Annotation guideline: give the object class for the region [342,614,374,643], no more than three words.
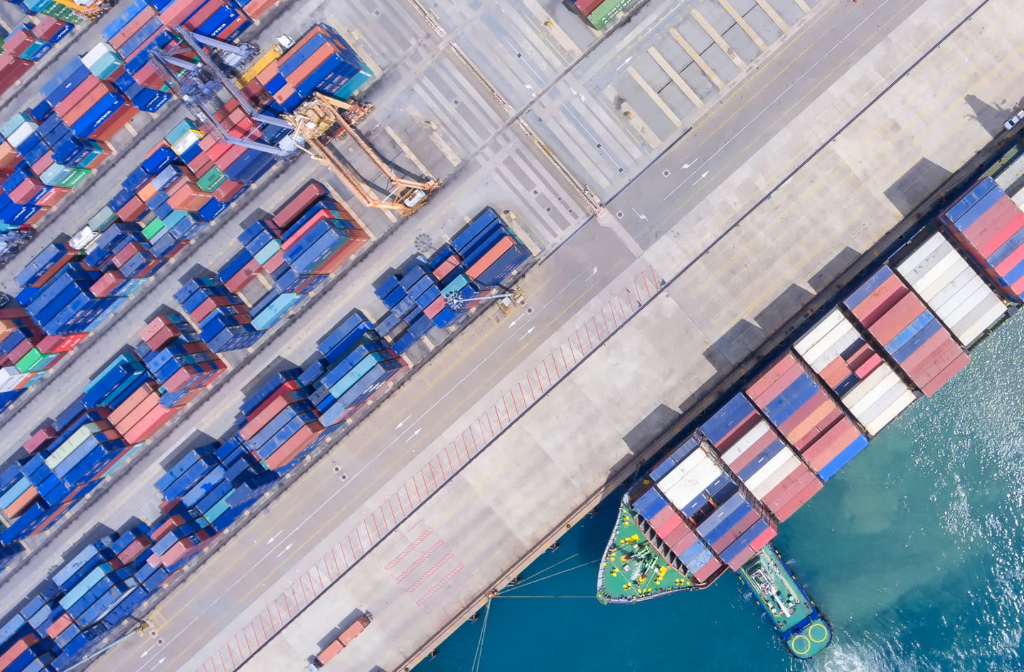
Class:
shipping container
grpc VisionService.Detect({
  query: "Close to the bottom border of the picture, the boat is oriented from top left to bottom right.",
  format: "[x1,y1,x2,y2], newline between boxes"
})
[733,540,836,660]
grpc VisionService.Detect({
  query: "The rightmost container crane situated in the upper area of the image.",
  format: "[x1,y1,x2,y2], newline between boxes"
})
[284,88,449,218]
